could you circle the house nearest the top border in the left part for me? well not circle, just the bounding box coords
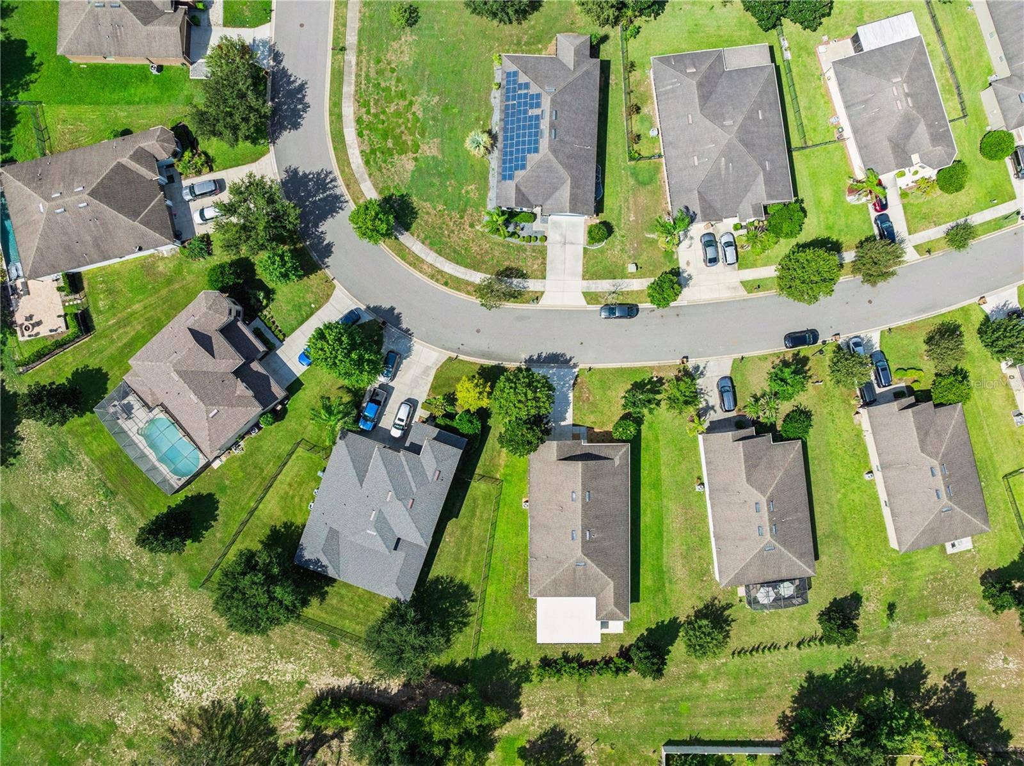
[57,0,194,65]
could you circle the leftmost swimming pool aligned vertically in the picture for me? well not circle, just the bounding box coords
[0,188,20,264]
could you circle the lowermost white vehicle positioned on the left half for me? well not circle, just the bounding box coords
[390,400,414,438]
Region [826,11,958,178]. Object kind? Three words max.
house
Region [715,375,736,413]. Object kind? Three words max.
car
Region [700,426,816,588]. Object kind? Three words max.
house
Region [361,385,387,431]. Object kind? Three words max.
truck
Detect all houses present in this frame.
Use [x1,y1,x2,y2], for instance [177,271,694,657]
[860,395,991,554]
[57,0,194,65]
[700,426,816,588]
[528,439,630,643]
[294,422,468,600]
[0,126,183,278]
[826,11,958,178]
[1006,362,1024,433]
[650,44,794,224]
[495,33,601,217]
[971,0,1024,134]
[122,290,291,457]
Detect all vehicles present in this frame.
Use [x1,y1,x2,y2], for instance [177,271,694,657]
[390,400,414,438]
[781,328,819,348]
[717,230,738,268]
[379,347,403,385]
[1009,142,1024,189]
[870,195,888,216]
[857,377,881,408]
[183,178,221,201]
[361,385,387,431]
[600,303,637,320]
[194,205,231,225]
[844,331,865,369]
[870,350,894,389]
[871,213,897,249]
[715,375,736,413]
[699,231,719,269]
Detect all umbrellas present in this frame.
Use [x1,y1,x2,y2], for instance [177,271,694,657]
[777,580,794,598]
[755,584,775,603]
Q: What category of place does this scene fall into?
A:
residential area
